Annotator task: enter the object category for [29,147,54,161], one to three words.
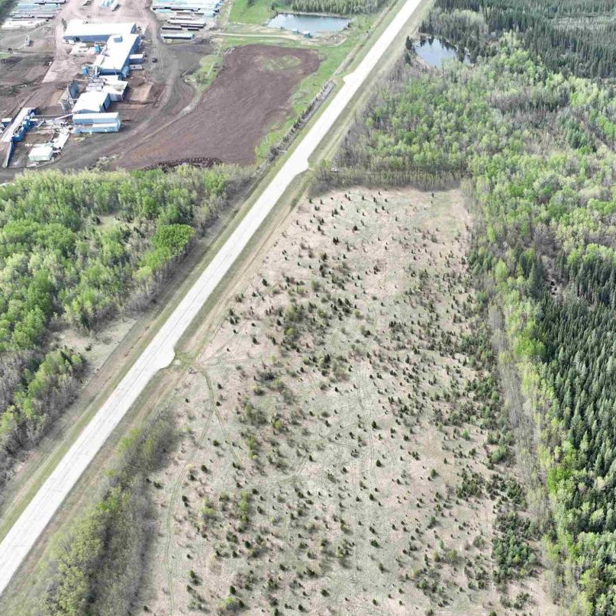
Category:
building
